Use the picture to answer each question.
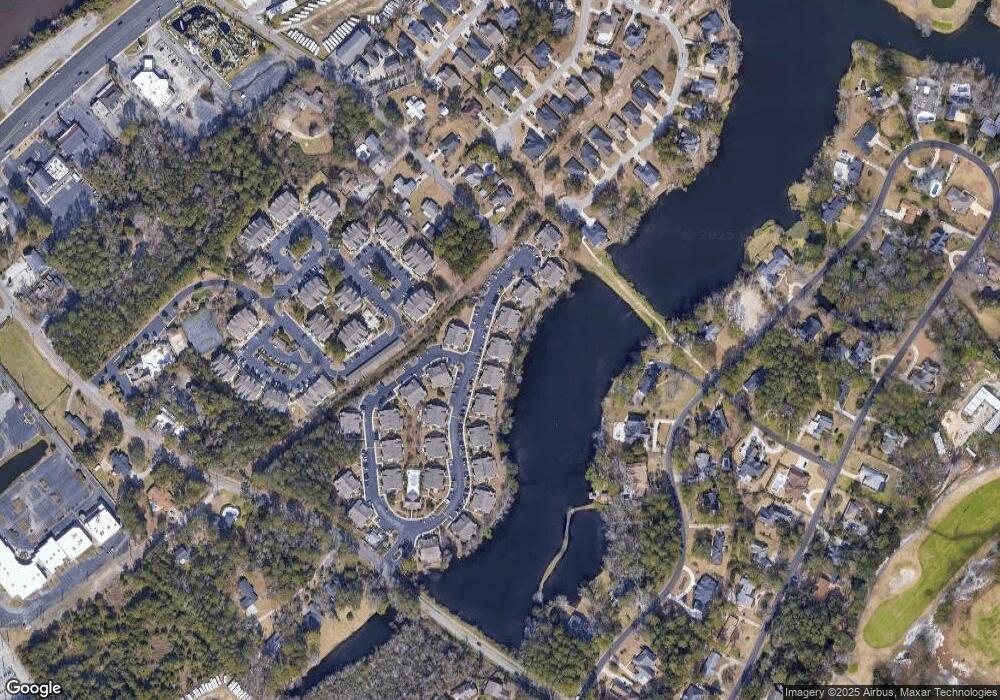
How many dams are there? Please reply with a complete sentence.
The photo contains 2 dams.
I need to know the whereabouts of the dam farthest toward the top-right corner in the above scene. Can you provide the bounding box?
[593,258,676,348]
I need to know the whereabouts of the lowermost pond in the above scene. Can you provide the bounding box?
[286,608,396,699]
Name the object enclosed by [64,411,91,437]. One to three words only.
house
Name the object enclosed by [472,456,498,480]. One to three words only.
building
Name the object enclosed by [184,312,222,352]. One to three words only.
tennis court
